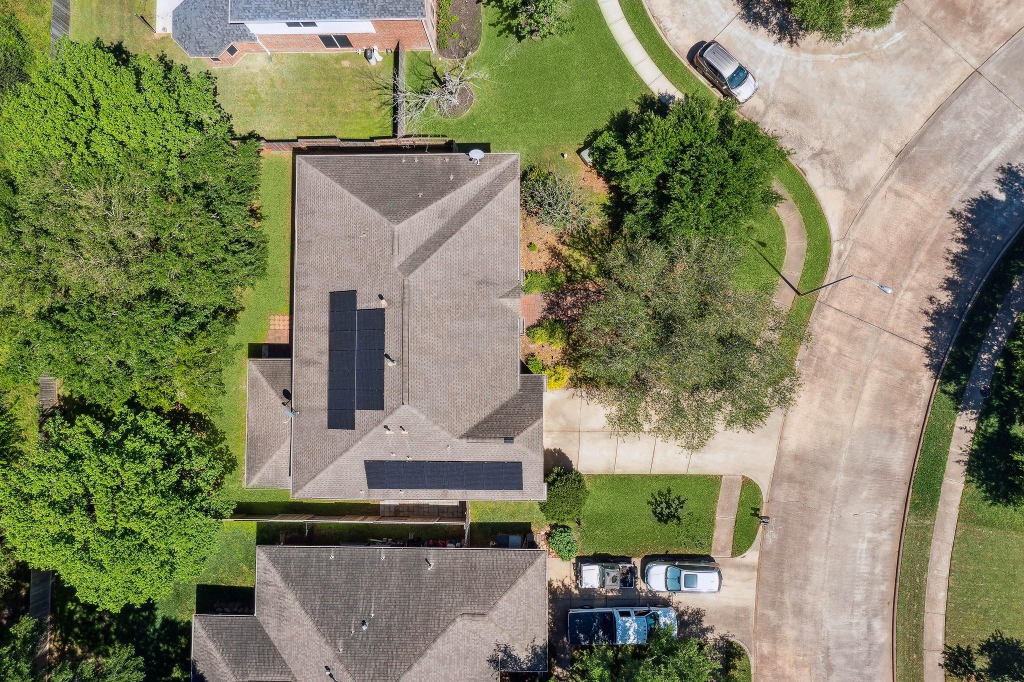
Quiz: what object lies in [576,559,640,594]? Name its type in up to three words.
truck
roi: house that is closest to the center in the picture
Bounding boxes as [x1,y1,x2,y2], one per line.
[243,152,548,503]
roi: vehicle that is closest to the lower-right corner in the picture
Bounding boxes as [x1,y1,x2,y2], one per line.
[644,559,725,599]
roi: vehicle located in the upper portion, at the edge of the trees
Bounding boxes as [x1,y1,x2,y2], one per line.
[692,37,757,103]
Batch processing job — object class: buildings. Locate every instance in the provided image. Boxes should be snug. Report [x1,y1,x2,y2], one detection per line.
[156,0,436,67]
[243,152,548,503]
[189,545,550,682]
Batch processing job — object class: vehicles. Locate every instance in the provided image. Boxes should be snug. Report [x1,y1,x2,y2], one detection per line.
[576,559,640,594]
[567,604,680,653]
[644,559,725,599]
[692,37,757,103]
